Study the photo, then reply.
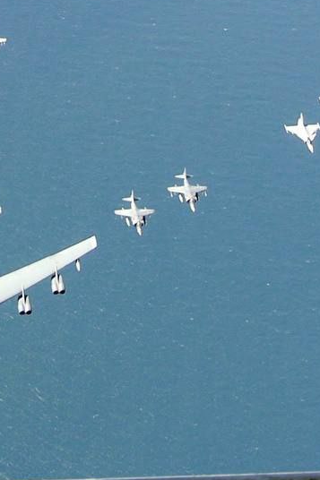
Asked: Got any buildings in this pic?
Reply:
No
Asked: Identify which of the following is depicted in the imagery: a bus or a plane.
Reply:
plane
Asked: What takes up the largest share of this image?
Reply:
water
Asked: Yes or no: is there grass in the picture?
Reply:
No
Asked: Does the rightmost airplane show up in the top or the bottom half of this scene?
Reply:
top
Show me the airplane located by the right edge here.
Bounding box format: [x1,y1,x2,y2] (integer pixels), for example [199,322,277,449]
[284,112,320,152]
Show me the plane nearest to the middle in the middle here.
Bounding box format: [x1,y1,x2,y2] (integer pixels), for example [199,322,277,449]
[115,191,154,235]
